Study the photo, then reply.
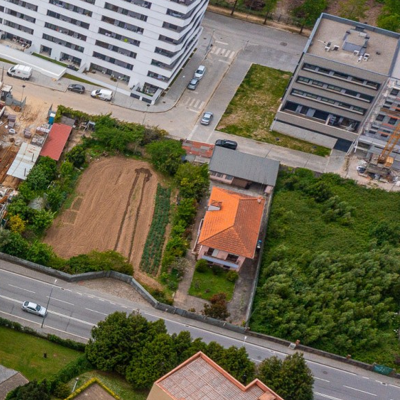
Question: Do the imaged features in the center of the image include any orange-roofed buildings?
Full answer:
Yes, an orange-roofed building appears in the center of the image.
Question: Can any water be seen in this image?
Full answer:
No, there's no water in this view.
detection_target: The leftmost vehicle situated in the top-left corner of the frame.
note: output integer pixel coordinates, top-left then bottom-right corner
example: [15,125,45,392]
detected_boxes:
[8,61,34,76]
